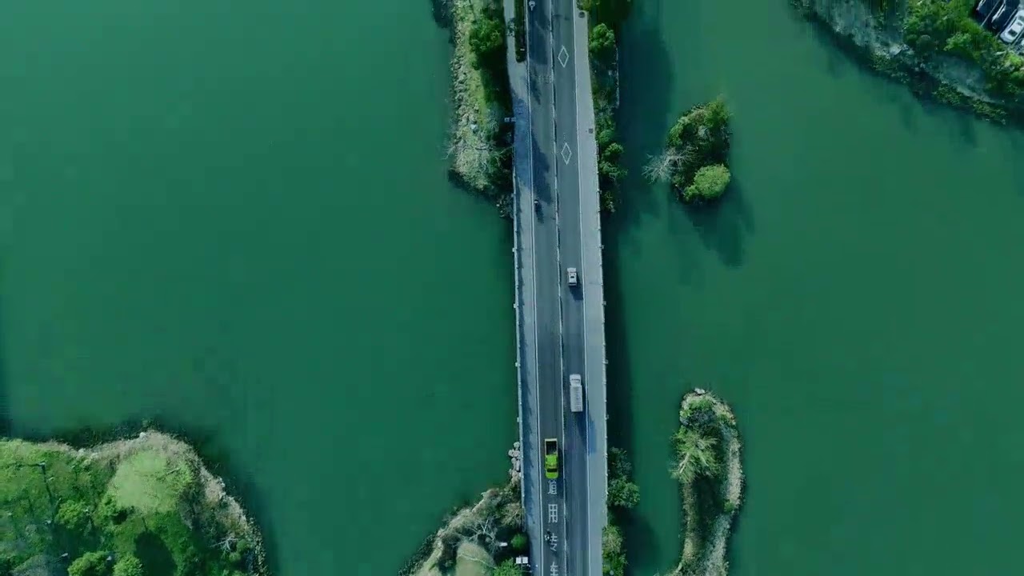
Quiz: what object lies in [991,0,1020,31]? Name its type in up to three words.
car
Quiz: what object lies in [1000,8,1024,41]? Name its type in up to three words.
car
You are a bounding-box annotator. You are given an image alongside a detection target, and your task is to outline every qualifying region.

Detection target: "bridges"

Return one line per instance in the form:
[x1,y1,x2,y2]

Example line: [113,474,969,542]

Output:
[511,132,611,535]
